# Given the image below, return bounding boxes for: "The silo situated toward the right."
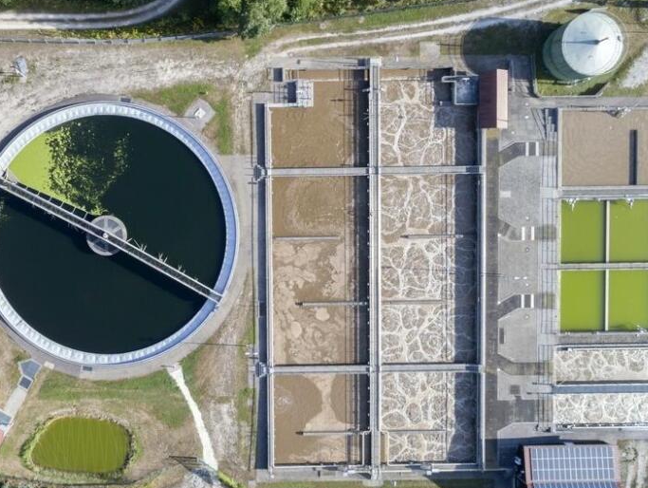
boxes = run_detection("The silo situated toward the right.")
[539,12,622,85]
